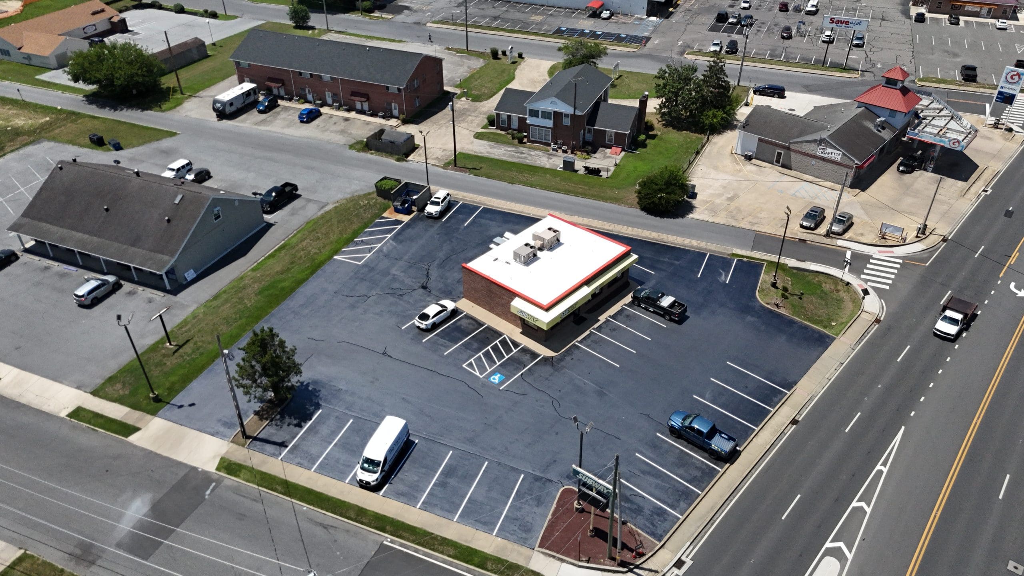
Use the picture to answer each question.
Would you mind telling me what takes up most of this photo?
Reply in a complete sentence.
Most of the picture is covered by paved ground.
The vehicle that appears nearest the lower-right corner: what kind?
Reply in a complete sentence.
From above, the vehicle that appears nearest the lower-right corner can be identified as a truck.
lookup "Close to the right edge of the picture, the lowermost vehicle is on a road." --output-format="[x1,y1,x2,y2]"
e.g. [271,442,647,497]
[929,291,984,345]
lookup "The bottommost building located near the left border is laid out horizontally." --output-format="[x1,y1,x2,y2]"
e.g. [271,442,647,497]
[6,155,264,288]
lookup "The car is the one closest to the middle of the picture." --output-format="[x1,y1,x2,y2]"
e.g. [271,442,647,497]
[408,300,460,333]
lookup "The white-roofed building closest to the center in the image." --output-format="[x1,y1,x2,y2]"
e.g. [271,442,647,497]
[460,213,640,340]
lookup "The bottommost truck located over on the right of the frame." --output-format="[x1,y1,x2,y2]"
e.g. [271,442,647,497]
[662,410,744,464]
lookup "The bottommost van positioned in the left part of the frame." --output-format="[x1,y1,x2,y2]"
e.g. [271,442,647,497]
[351,414,413,494]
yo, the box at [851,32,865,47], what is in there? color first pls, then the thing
gray car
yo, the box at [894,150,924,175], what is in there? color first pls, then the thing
black car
